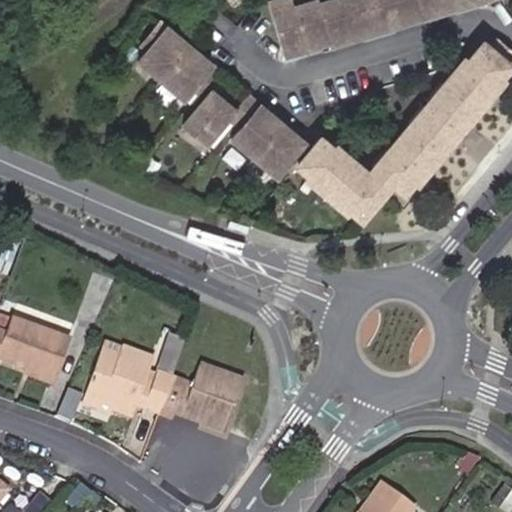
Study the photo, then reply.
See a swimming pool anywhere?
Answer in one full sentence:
No, no swimming pool is visible in the view.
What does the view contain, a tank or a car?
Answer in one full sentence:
Visible in the photo is a car.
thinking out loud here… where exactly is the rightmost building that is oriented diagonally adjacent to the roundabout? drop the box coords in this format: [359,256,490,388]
[296,42,512,228]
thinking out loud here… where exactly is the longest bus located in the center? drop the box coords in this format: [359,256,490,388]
[185,226,246,255]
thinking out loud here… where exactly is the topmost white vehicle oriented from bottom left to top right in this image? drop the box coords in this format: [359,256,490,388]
[252,18,270,38]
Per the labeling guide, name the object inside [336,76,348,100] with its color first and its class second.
white vehicle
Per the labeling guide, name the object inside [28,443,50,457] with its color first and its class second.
white car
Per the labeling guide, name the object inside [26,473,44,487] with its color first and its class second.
white umbrella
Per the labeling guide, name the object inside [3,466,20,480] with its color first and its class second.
white umbrella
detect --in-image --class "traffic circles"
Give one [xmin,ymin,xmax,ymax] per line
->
[322,264,469,411]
